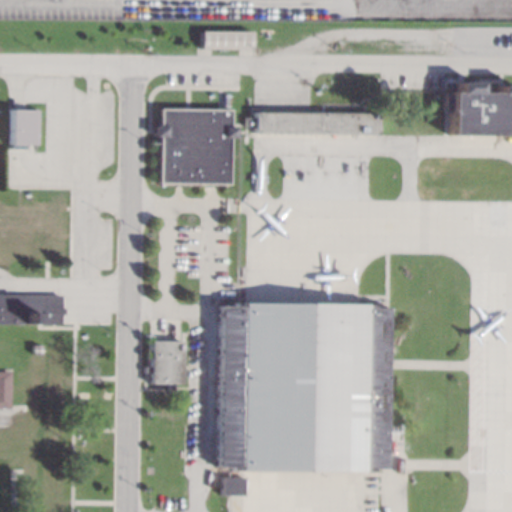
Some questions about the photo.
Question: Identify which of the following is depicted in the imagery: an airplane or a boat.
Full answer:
The one in the frame is an airplane.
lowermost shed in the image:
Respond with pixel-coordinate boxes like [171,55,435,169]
[222,476,246,496]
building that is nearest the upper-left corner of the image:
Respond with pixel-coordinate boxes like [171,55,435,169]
[8,109,42,152]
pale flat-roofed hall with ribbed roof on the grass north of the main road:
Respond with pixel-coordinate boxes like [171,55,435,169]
[199,30,256,54]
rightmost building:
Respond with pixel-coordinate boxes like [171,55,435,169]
[446,84,512,136]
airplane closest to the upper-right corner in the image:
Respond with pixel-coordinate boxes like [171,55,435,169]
[253,156,270,194]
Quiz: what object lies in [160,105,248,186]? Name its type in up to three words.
building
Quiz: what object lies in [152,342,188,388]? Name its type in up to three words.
building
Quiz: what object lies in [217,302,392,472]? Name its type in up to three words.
hangar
